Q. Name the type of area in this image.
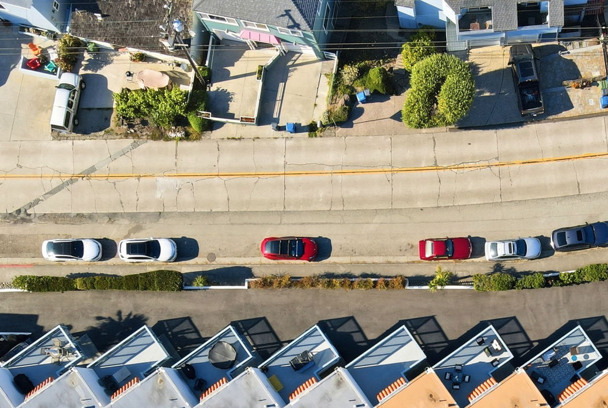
residential area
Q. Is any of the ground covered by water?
No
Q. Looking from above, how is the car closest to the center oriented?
from left to right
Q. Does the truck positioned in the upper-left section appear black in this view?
No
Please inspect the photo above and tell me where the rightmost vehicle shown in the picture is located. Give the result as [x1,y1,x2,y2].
[551,221,608,253]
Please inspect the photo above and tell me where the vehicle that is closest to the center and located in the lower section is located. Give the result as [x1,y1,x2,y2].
[261,234,319,262]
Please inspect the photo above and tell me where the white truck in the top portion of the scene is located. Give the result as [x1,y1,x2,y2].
[49,70,84,136]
